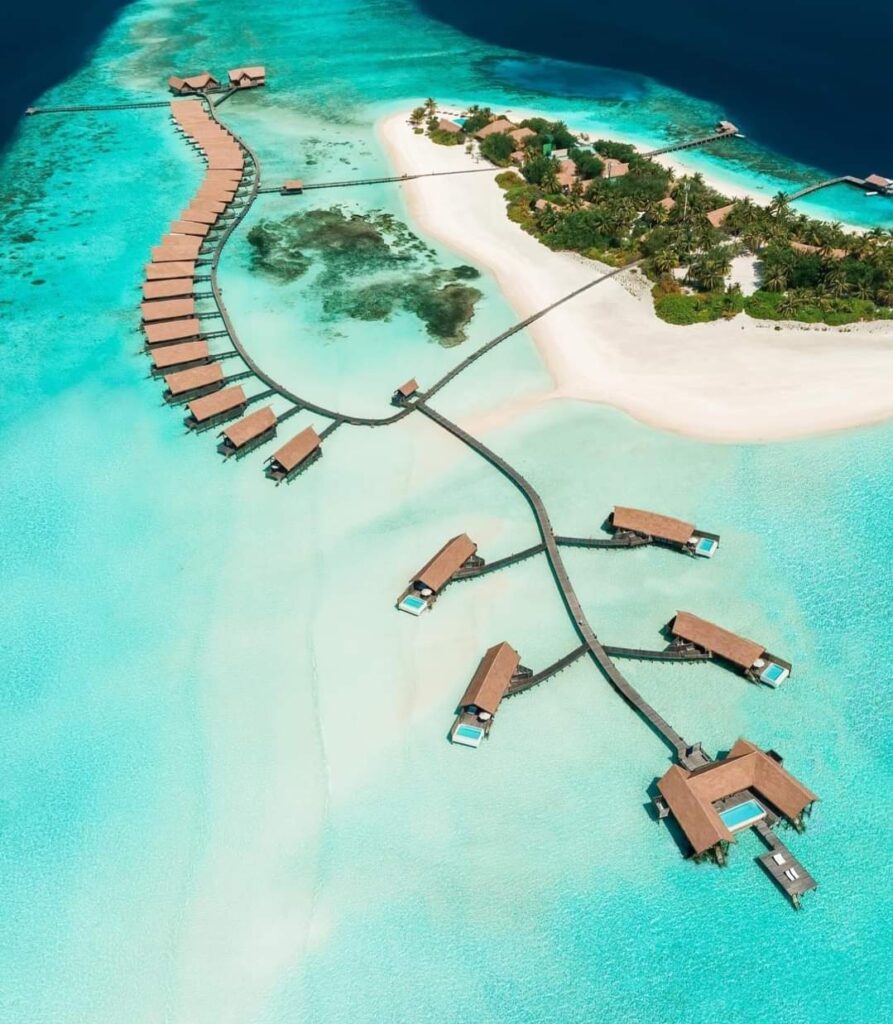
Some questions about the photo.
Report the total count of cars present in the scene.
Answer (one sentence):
The photo contains no cars.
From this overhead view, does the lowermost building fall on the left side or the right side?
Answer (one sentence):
The lowermost building appears in the right half of the scene.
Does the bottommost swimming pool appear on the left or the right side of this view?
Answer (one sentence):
The bottommost swimming pool is on the right side of the image.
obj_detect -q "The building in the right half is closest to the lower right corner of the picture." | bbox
[645,737,815,876]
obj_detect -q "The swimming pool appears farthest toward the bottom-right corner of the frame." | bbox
[718,797,766,832]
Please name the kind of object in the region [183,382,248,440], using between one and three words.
house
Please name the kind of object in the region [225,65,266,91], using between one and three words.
house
